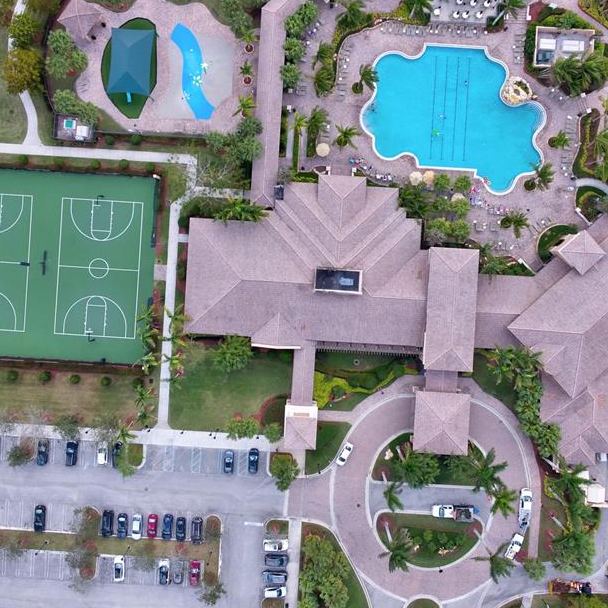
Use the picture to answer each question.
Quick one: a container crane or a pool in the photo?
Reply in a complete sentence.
I can see a pool in this picture.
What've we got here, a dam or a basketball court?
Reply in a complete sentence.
There is a basketball court in the scene.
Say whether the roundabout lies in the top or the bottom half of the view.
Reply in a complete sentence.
The bottom half of the photo is where the roundabout is.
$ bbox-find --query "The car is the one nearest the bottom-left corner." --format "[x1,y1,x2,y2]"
[31,506,44,532]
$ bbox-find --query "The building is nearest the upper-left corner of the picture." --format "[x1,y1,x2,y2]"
[57,0,102,41]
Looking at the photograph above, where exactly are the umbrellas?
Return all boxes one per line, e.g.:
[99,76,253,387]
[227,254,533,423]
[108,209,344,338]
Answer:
[409,172,422,185]
[451,191,464,204]
[422,172,435,184]
[316,143,330,157]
